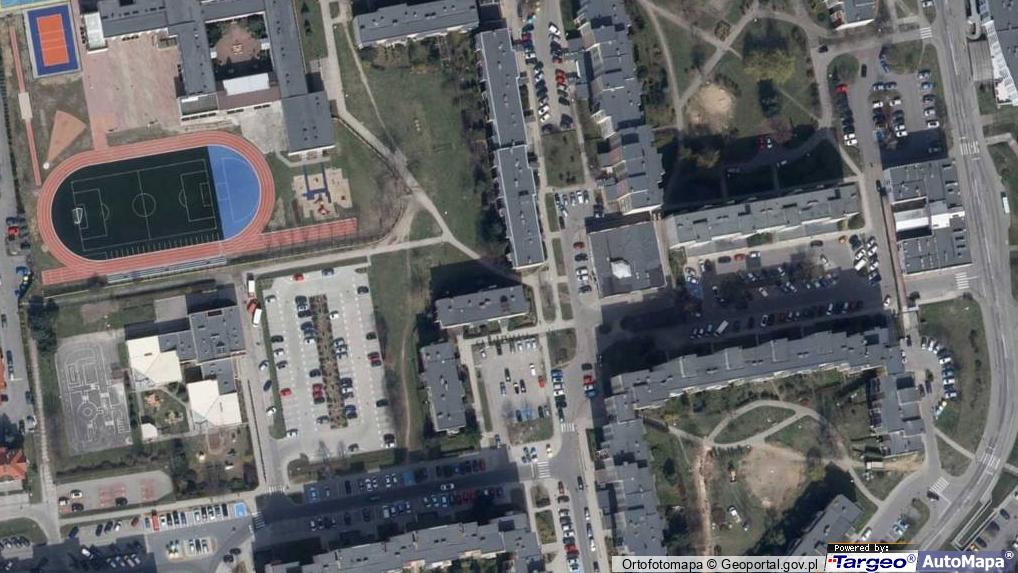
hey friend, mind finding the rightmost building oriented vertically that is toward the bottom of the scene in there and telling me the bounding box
[868,345,925,459]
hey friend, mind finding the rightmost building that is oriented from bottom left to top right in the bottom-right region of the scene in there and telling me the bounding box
[774,495,862,573]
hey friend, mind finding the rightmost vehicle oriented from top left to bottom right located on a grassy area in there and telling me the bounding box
[728,507,742,524]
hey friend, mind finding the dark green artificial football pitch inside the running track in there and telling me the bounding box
[53,146,222,261]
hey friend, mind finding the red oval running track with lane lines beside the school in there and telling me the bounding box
[39,132,358,285]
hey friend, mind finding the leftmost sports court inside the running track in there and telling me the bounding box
[206,146,260,241]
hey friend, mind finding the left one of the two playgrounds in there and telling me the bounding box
[56,337,132,455]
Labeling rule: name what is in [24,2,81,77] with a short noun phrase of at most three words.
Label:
sports court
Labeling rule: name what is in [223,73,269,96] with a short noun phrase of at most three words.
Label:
building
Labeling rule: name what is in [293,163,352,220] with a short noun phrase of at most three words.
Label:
playground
